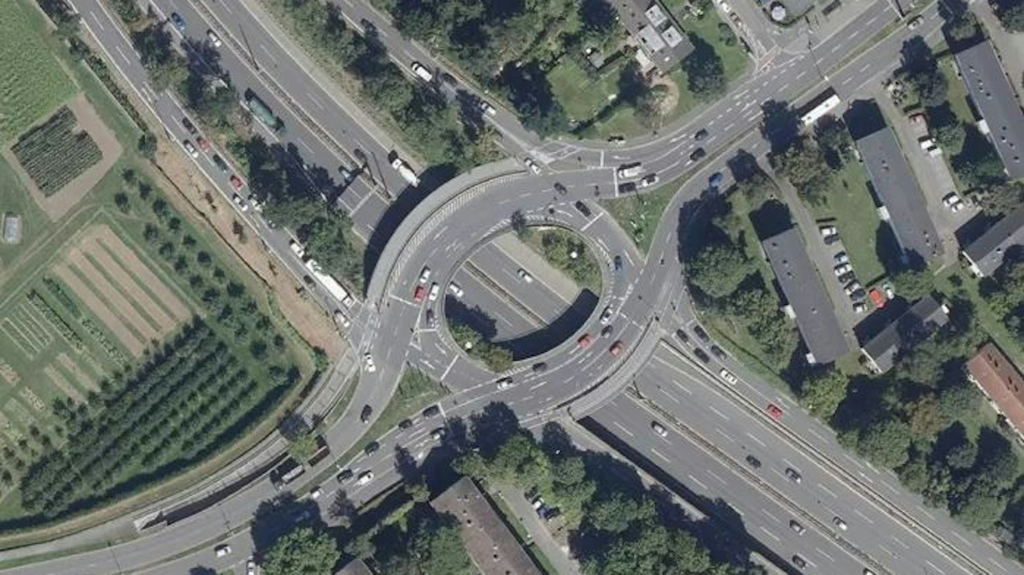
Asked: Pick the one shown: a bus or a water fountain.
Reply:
bus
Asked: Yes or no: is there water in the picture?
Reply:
No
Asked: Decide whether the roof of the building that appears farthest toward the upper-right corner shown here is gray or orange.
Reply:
gray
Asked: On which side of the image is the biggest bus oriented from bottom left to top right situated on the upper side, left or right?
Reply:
right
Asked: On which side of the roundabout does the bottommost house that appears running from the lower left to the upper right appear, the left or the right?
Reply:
on the right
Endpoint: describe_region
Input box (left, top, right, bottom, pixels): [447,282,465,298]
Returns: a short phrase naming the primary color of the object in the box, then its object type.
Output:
white car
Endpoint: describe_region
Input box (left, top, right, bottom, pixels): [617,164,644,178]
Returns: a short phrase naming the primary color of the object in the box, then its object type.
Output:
white vehicle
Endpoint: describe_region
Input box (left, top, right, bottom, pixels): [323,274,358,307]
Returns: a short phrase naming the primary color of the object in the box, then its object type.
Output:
white truck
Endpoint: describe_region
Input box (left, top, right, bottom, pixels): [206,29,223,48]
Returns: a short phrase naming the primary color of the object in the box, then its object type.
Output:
white car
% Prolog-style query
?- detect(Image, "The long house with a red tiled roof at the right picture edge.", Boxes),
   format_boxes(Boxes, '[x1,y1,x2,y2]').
[964,343,1024,439]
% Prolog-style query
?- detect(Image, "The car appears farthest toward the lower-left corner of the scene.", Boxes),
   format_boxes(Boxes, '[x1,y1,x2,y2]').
[214,545,232,557]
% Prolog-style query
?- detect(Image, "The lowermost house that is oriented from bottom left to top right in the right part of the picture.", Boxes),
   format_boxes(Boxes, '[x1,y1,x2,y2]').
[863,295,949,372]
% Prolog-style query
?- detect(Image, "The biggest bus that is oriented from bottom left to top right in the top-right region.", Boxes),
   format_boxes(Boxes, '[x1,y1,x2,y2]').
[796,91,844,128]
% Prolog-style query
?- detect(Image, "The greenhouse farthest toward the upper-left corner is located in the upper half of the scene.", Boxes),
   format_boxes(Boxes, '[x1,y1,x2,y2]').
[4,216,19,243]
